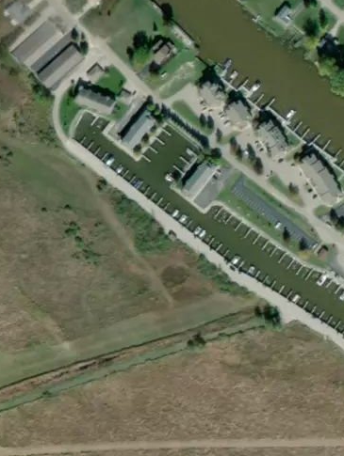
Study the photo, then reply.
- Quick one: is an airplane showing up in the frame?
No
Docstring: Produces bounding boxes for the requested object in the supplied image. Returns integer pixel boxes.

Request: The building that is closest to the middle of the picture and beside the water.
[181,157,221,202]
